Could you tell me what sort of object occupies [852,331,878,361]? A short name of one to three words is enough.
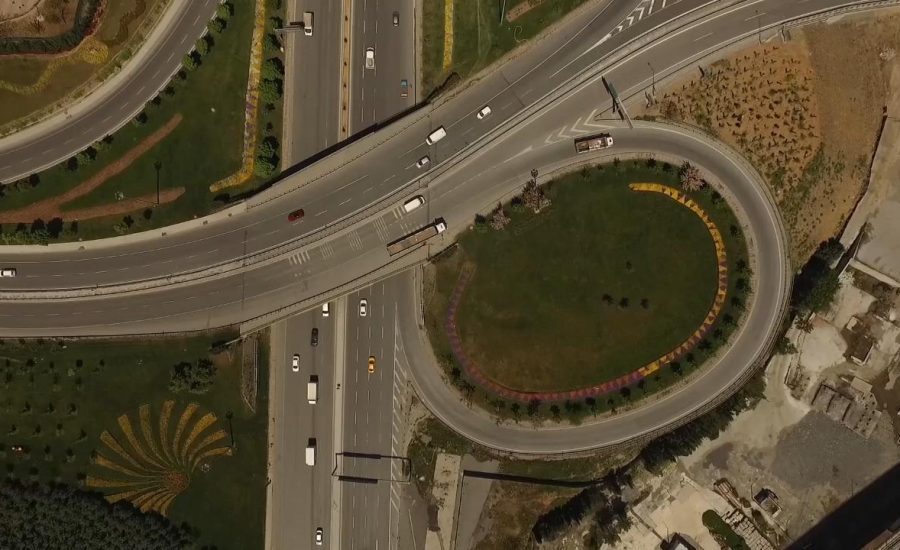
shed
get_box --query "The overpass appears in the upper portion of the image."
[243,99,432,334]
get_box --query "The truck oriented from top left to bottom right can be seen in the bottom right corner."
[757,490,782,517]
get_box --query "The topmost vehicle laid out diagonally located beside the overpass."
[426,125,447,143]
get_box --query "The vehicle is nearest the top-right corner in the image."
[575,134,614,152]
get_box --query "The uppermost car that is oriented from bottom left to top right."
[475,105,492,119]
